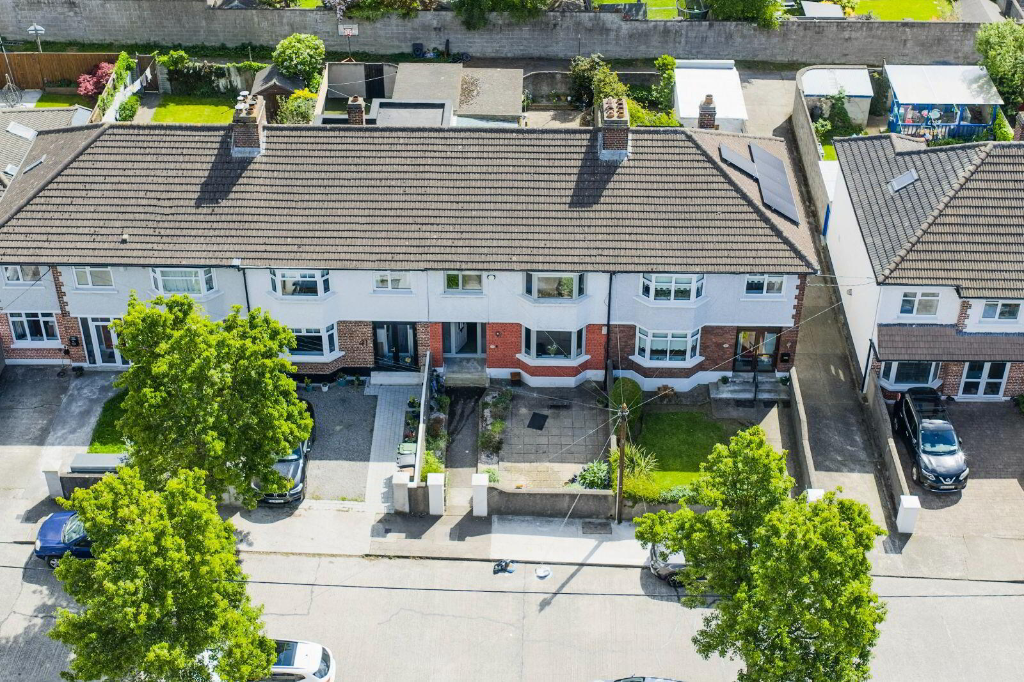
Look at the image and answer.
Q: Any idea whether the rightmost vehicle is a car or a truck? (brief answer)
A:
car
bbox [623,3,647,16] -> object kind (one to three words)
shed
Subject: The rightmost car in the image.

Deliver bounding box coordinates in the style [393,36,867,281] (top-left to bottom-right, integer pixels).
[892,390,971,493]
